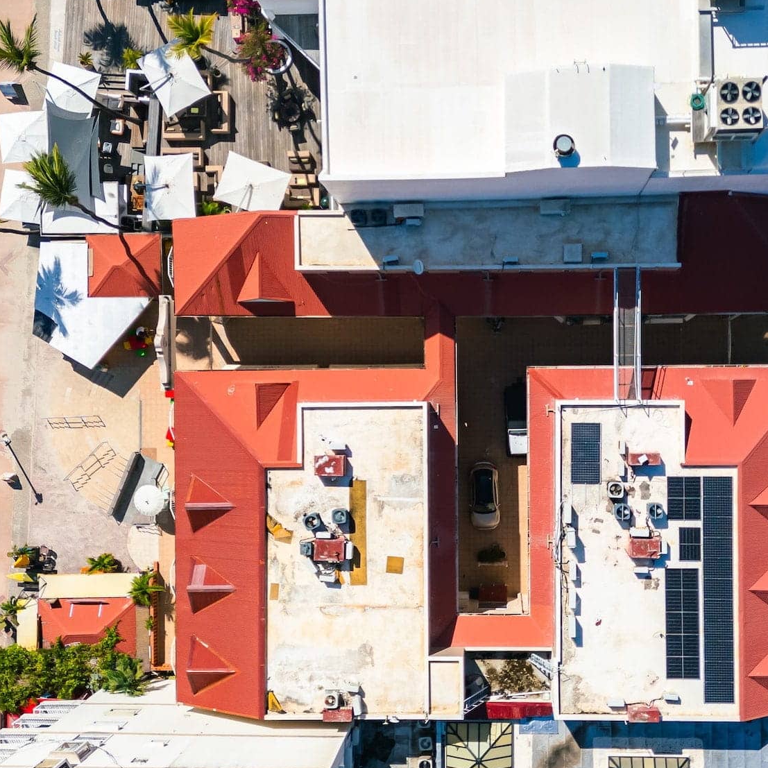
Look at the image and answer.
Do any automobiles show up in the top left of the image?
No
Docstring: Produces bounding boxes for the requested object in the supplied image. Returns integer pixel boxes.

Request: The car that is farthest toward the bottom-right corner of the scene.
[467,462,502,529]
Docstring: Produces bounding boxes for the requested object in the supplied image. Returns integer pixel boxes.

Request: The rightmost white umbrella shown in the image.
[213,151,292,214]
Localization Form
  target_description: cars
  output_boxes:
[467,462,502,529]
[503,385,527,456]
